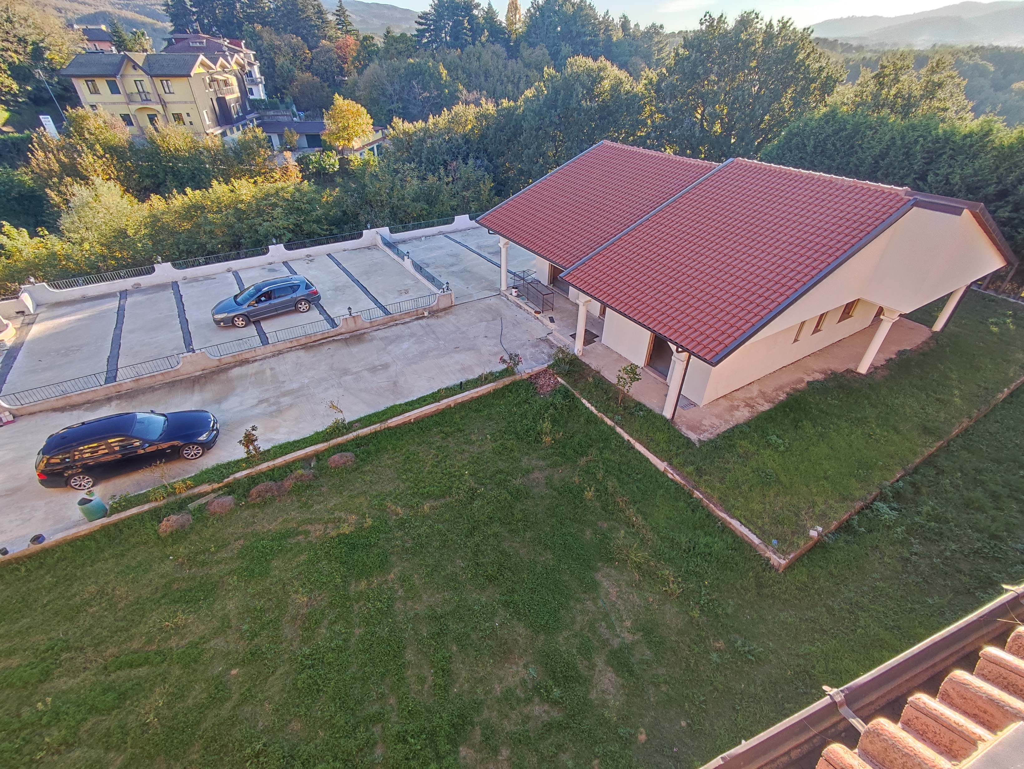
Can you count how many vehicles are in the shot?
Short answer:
2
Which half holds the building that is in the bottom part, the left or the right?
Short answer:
right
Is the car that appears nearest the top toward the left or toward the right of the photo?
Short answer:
left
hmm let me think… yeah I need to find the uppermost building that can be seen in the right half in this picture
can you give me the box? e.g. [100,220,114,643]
[470,136,1024,449]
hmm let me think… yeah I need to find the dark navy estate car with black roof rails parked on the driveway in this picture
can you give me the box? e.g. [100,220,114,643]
[28,407,225,497]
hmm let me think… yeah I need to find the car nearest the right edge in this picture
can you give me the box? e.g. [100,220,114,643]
[209,277,327,336]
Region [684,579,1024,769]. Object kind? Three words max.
building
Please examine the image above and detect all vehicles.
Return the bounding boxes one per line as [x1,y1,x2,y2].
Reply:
[28,407,225,497]
[209,277,327,336]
